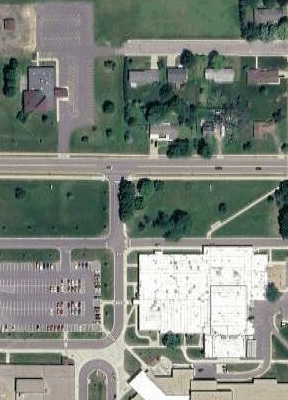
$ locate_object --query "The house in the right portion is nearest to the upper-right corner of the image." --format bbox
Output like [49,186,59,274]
[251,8,285,23]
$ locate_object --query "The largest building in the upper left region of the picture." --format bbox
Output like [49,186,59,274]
[24,66,69,113]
